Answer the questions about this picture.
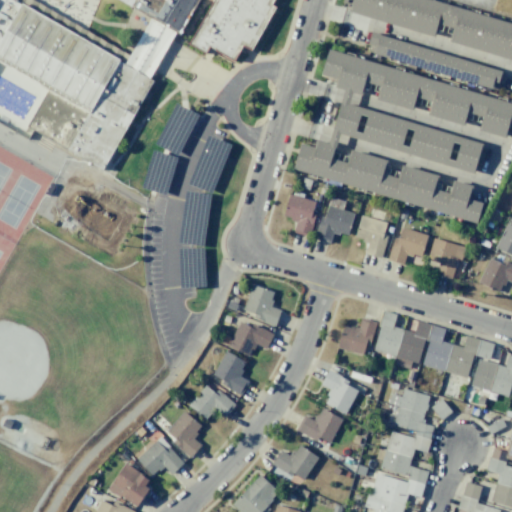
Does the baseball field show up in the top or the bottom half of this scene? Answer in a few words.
bottom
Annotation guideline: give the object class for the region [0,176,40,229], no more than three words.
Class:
tennis court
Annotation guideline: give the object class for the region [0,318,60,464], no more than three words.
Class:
baseball field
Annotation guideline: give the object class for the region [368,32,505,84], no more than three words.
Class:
building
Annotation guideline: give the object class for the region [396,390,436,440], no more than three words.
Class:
house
